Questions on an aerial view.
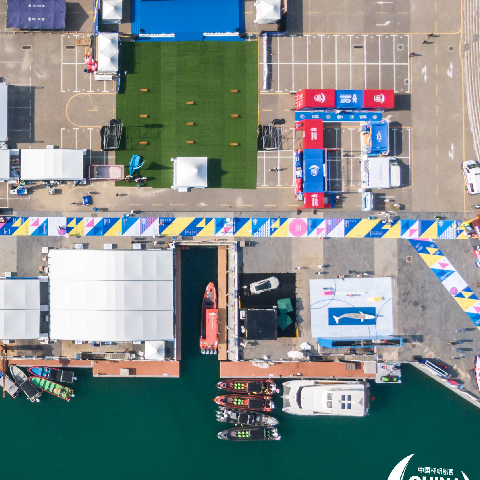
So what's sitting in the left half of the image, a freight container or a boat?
boat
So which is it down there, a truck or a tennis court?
truck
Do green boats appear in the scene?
Yes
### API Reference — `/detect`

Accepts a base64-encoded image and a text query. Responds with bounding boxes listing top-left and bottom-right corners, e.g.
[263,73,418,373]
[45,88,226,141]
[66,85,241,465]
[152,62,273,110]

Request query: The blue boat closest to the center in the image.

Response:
[128,154,141,174]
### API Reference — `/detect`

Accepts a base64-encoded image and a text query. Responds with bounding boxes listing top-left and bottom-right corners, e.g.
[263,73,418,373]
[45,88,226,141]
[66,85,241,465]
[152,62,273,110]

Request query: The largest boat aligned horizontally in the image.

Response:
[281,380,373,415]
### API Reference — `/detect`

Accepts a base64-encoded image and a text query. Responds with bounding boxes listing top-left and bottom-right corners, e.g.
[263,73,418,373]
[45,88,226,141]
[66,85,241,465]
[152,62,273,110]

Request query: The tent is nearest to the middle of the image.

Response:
[169,155,208,190]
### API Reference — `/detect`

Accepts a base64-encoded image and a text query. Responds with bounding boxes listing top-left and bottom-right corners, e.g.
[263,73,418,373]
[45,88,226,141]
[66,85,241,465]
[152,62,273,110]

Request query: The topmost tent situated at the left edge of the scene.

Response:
[6,0,66,32]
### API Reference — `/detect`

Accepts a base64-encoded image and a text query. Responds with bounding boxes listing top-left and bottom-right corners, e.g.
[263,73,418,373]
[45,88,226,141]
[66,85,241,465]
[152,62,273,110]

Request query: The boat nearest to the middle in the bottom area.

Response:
[199,281,218,353]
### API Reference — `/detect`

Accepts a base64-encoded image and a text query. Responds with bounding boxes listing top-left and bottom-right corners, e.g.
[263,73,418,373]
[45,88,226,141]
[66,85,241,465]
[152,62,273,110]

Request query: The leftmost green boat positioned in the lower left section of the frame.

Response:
[29,377,76,400]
